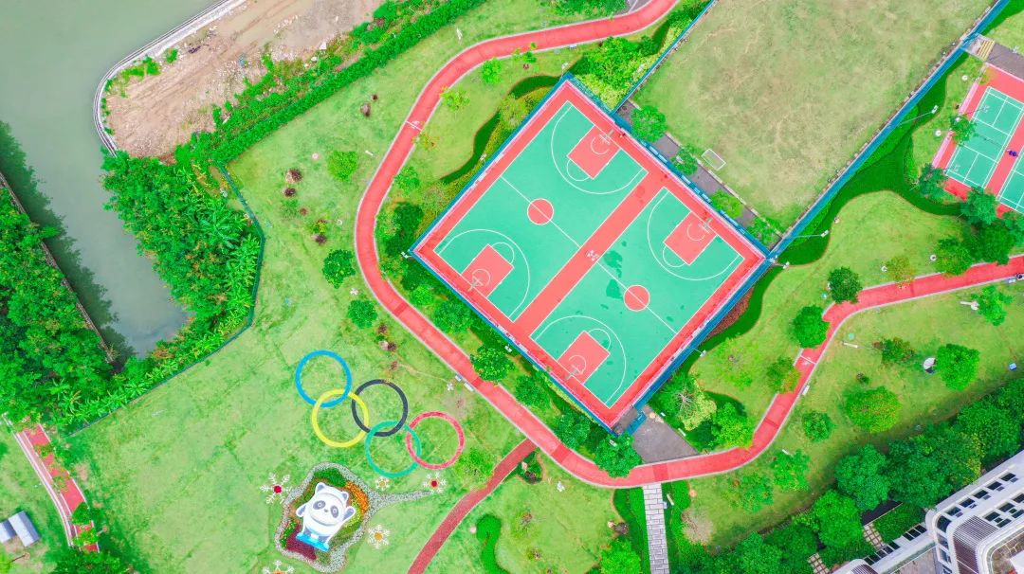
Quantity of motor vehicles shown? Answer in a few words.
0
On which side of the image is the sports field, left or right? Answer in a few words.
right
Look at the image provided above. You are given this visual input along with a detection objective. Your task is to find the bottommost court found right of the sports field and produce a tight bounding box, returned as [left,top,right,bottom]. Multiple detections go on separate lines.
[999,147,1024,210]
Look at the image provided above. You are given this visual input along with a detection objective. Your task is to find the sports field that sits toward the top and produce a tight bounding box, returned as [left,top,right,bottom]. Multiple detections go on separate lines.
[628,0,990,237]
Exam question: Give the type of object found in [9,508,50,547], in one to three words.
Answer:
shed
